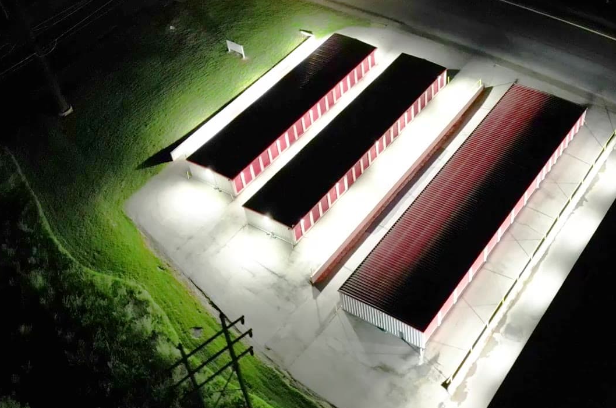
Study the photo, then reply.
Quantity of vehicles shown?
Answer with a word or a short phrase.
zero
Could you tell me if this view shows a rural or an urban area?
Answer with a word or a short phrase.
urban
